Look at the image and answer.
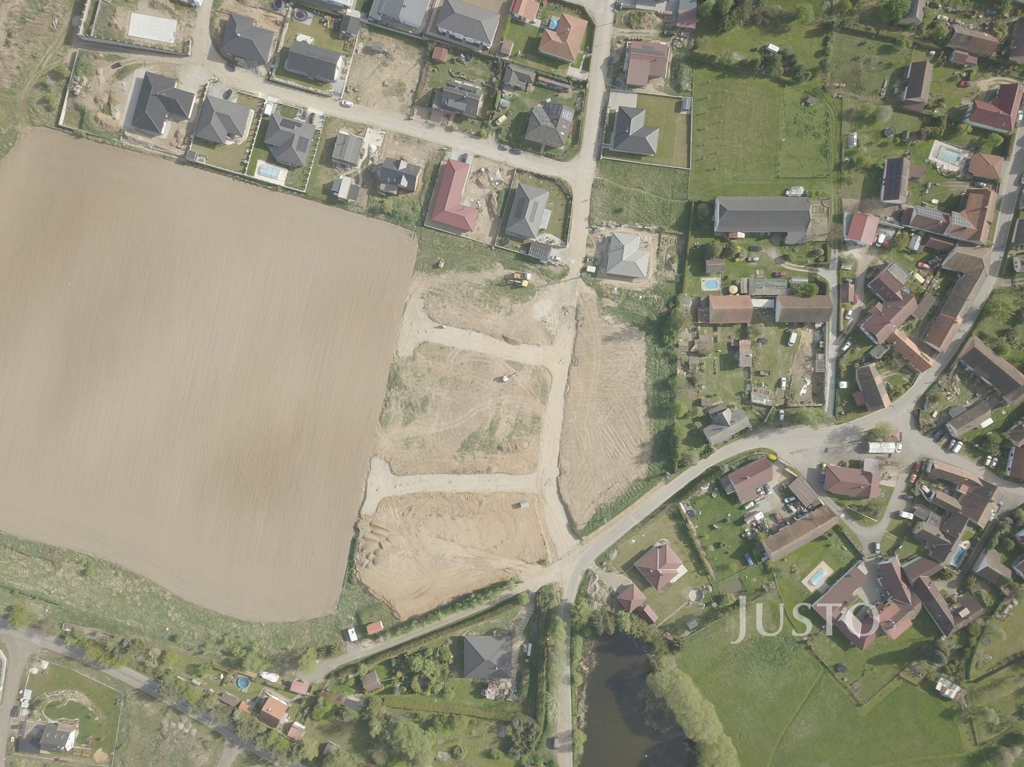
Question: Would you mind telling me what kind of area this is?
residential area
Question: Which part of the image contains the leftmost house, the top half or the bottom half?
bottom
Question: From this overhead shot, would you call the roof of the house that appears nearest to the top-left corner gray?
Yes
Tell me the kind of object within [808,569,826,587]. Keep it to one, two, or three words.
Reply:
swimming pool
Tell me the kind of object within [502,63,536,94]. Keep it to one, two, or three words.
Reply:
house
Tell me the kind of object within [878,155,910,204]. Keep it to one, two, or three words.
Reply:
barn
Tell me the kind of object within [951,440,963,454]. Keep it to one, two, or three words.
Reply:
vehicle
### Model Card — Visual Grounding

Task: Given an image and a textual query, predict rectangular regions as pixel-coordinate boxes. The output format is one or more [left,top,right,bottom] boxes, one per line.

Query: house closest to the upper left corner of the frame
[131,71,198,134]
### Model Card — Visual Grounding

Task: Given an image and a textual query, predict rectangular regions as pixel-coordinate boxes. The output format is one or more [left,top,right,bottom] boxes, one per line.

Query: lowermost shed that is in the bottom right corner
[932,677,966,701]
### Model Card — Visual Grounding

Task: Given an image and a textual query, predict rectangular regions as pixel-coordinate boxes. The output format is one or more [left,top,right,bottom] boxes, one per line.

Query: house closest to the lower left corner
[19,720,82,756]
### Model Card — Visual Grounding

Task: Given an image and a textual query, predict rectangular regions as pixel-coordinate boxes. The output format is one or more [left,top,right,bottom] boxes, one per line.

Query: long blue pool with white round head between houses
[948,542,967,571]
